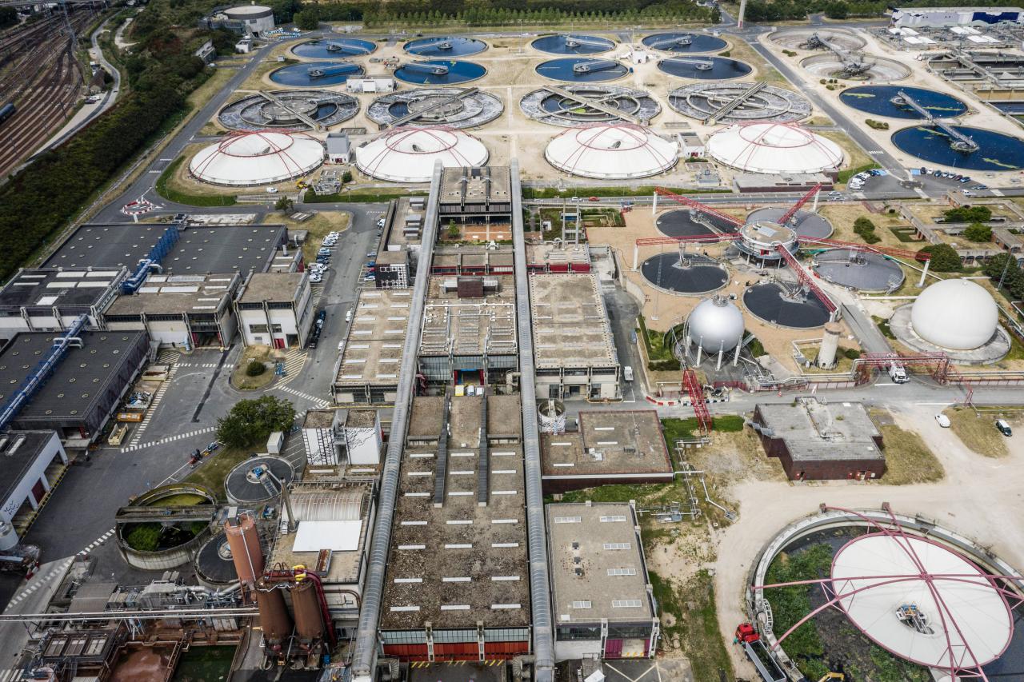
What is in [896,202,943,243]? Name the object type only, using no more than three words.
building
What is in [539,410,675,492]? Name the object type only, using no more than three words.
building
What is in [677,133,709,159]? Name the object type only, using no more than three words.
house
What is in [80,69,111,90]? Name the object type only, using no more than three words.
house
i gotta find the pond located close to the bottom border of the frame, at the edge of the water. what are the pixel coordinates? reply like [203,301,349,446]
[741,501,1024,682]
